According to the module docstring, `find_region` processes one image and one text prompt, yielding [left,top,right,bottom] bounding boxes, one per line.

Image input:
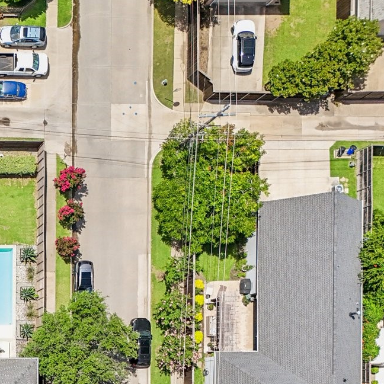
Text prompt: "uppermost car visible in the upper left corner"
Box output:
[0,26,45,52]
